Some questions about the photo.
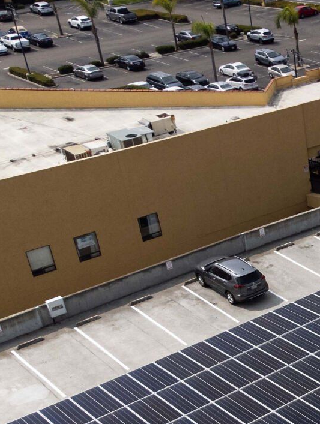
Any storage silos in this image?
No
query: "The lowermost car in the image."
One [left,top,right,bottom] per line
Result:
[193,255,268,305]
